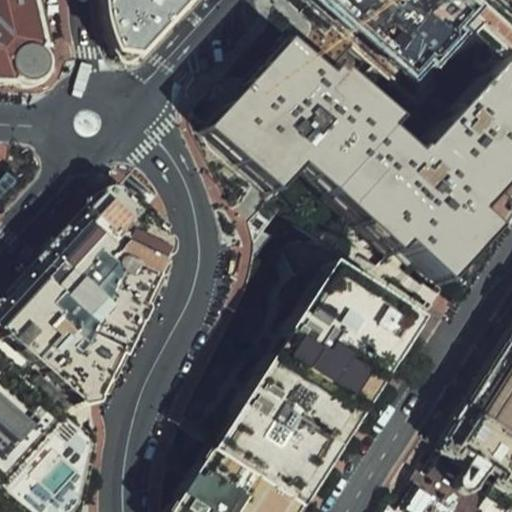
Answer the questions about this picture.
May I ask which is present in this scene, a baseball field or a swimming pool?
swimming pool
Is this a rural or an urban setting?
urban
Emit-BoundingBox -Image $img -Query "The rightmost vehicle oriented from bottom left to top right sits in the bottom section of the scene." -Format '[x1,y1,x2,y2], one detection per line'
[402,396,416,412]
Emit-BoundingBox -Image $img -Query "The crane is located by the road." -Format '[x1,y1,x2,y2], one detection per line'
[263,0,400,94]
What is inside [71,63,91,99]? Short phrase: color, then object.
white bus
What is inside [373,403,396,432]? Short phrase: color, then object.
white truck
